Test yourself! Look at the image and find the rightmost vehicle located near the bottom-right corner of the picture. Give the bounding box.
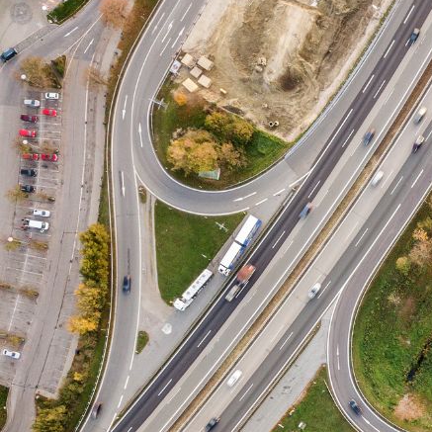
[347,400,361,415]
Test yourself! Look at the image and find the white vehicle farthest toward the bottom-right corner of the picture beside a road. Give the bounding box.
[306,283,320,298]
